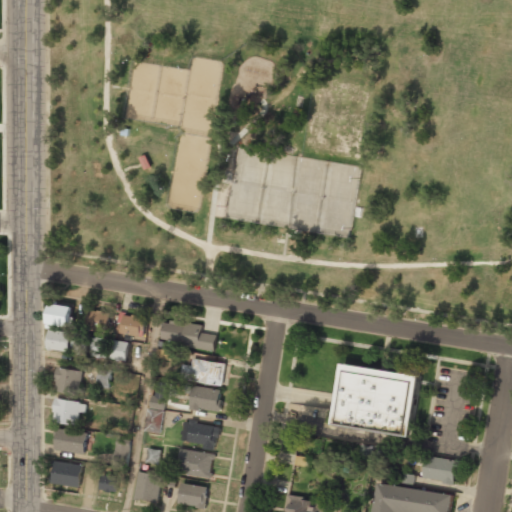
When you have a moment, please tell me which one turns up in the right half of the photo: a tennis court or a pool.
tennis court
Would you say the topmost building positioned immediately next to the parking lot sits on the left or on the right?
right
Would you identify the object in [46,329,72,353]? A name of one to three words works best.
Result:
house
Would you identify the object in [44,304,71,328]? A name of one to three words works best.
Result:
house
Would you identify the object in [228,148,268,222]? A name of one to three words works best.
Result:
tennis court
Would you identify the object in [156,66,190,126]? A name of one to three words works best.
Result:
sports court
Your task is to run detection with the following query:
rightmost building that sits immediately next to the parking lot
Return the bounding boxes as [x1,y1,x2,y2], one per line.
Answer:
[422,456,458,485]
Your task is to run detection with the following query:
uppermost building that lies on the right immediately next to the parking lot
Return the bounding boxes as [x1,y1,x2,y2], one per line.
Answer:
[328,364,422,438]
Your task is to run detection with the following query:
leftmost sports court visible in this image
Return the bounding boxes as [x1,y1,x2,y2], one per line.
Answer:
[129,63,160,122]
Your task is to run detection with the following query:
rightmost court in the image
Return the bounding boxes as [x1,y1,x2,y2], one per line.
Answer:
[320,162,360,236]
